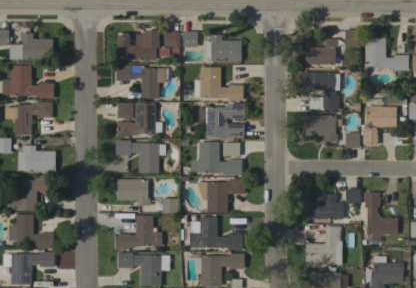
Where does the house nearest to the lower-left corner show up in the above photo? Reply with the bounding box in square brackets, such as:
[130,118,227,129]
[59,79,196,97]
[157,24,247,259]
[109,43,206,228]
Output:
[4,252,55,284]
